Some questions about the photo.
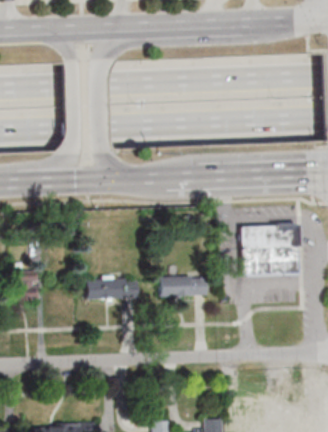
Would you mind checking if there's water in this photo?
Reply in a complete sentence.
No, there's no water in this view.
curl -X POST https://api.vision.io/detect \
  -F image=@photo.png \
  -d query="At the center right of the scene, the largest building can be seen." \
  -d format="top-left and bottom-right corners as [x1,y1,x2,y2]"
[242,224,300,278]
